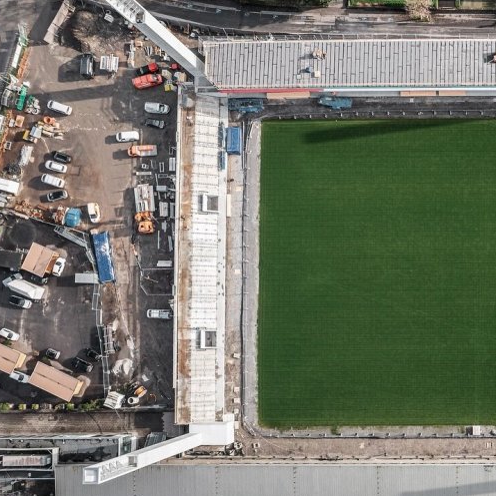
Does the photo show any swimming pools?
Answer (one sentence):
No, I can't see a single swimming pool in this photo.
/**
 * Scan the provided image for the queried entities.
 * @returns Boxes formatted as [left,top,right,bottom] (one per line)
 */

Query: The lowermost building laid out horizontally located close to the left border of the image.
[0,436,143,463]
